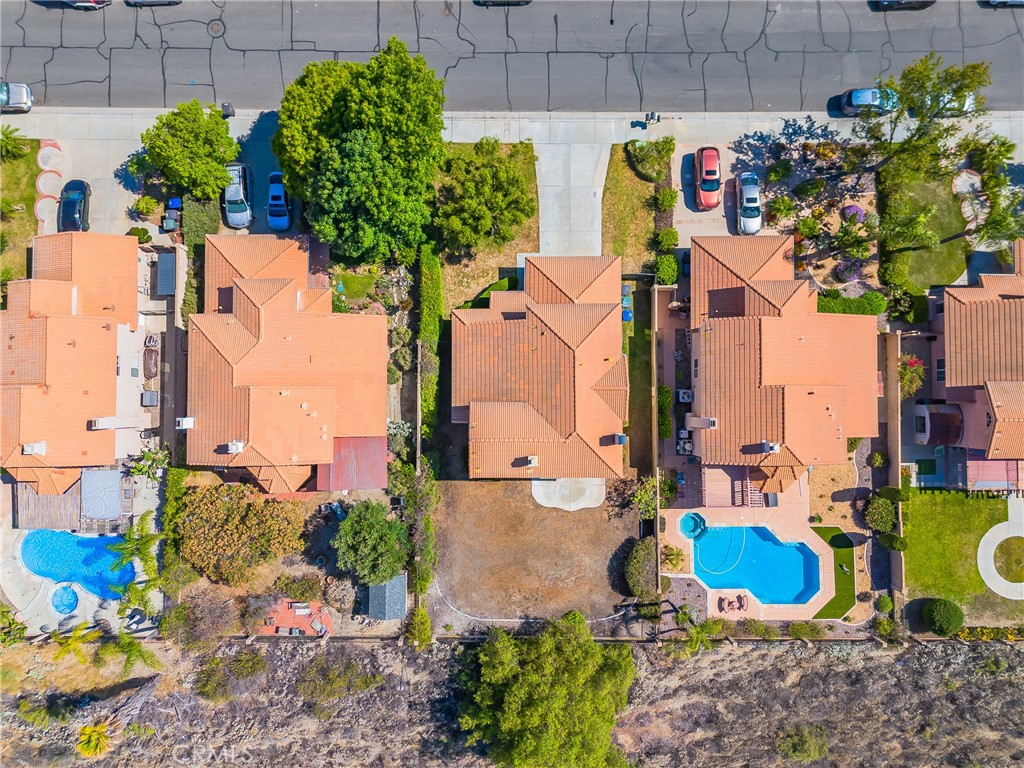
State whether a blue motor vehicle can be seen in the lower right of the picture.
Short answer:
No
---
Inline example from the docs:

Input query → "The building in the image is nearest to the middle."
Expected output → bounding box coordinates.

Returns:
[451,255,629,480]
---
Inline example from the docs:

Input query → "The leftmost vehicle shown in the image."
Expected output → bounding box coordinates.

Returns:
[0,81,39,116]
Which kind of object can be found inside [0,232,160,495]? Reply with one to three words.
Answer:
house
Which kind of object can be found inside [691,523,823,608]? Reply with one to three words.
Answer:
swimming pool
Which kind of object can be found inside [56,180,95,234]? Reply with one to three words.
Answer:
car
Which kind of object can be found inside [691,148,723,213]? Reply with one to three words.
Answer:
car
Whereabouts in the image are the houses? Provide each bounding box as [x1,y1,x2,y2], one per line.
[681,234,880,494]
[451,255,629,480]
[173,233,388,494]
[930,239,1024,460]
[0,232,160,495]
